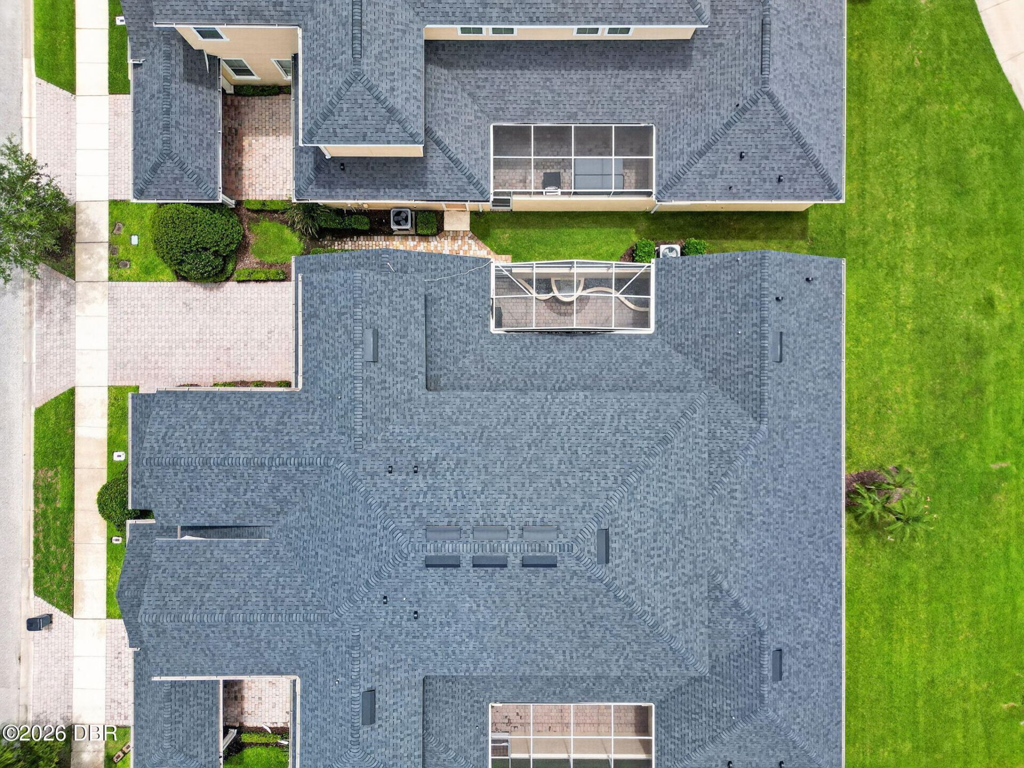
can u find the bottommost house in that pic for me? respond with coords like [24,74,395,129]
[116,249,845,768]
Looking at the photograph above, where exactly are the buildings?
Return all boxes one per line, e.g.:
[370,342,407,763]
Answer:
[116,249,845,768]
[118,0,845,217]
